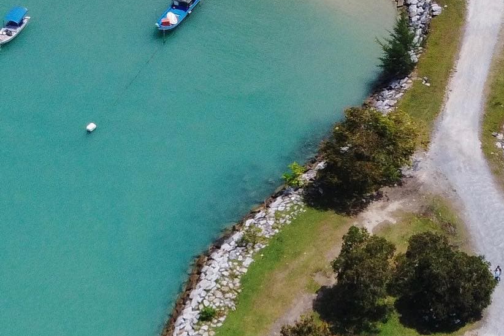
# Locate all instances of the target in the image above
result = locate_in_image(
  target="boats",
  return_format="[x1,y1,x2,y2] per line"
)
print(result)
[0,3,34,44]
[157,0,205,30]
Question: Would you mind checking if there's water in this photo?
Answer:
Yes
